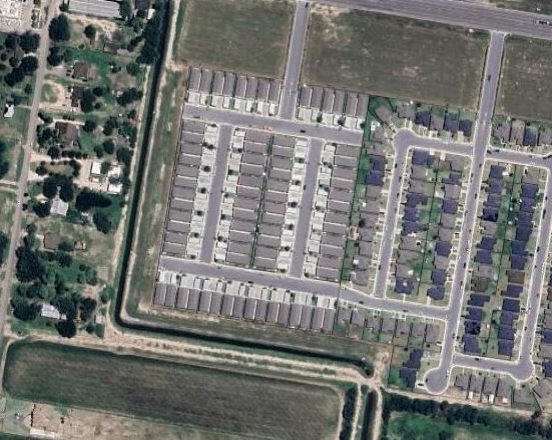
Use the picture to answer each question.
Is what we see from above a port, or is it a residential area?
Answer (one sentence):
What you see here is a residential area.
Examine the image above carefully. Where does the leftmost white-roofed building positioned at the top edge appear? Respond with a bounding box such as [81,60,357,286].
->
[0,0,21,21]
